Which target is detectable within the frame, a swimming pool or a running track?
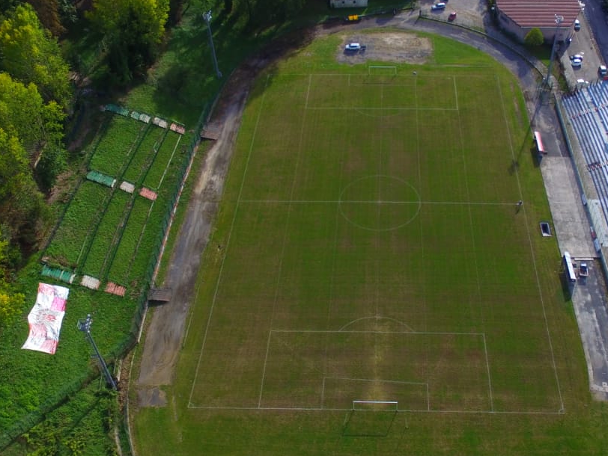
running track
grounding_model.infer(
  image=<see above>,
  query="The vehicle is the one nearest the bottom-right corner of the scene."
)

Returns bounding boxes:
[576,261,589,276]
